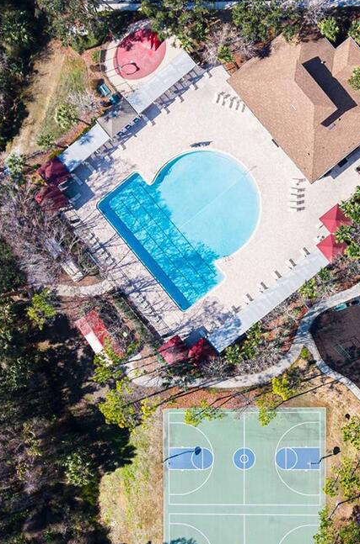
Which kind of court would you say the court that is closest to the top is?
basketball court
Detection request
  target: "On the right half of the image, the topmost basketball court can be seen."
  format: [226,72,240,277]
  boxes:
[163,408,325,510]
